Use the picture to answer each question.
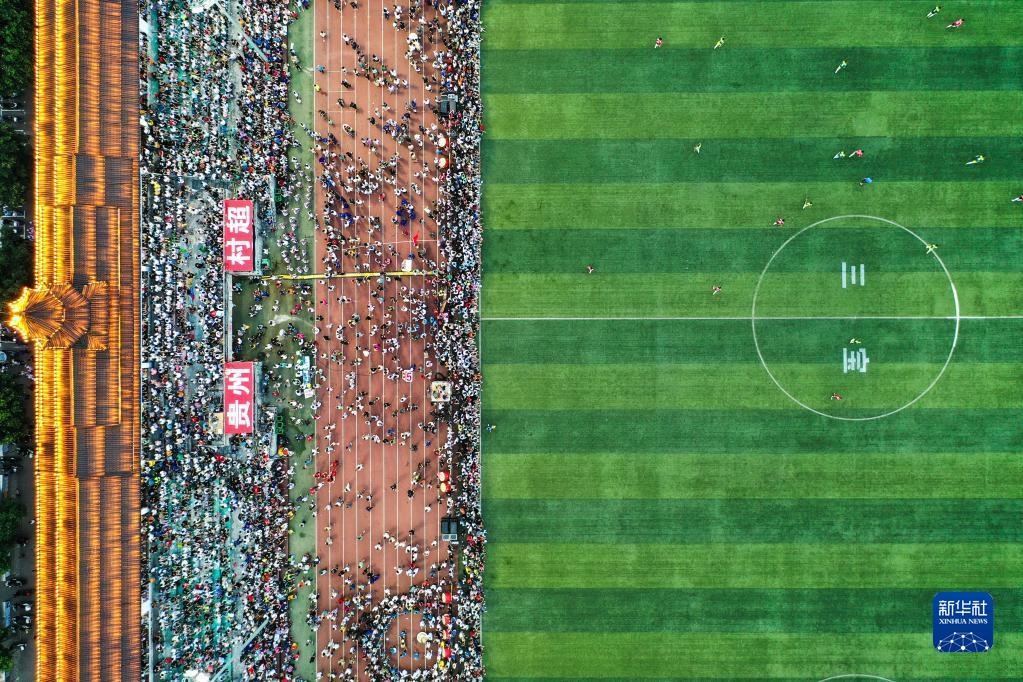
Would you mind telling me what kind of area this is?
sports ground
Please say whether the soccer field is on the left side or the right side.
right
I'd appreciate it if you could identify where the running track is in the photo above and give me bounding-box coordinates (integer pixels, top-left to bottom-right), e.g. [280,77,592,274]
[314,0,456,682]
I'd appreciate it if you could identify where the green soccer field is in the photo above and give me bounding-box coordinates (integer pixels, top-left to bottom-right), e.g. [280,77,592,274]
[481,0,1023,682]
